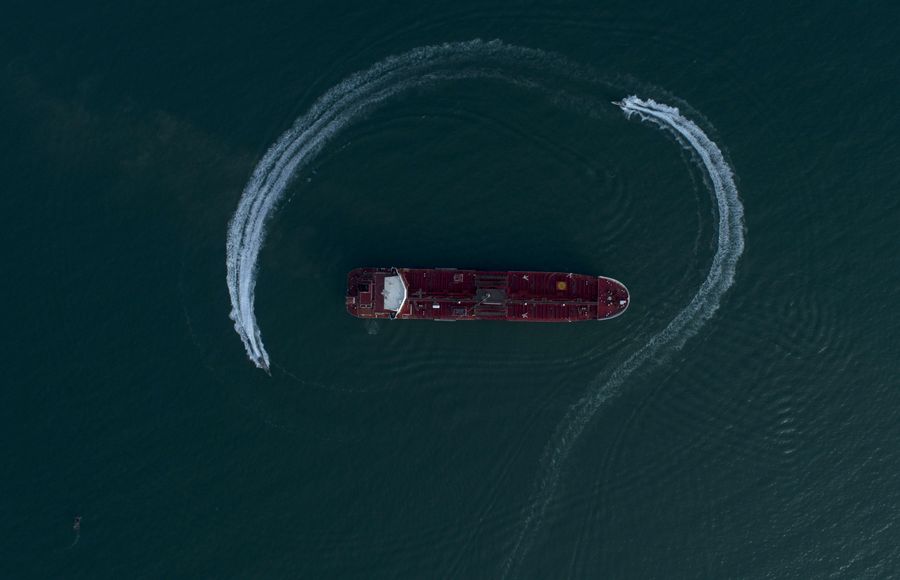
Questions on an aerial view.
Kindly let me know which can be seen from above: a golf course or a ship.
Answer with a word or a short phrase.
ship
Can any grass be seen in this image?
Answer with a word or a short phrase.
No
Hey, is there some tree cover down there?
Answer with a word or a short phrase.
No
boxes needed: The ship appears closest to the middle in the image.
[346,267,629,322]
